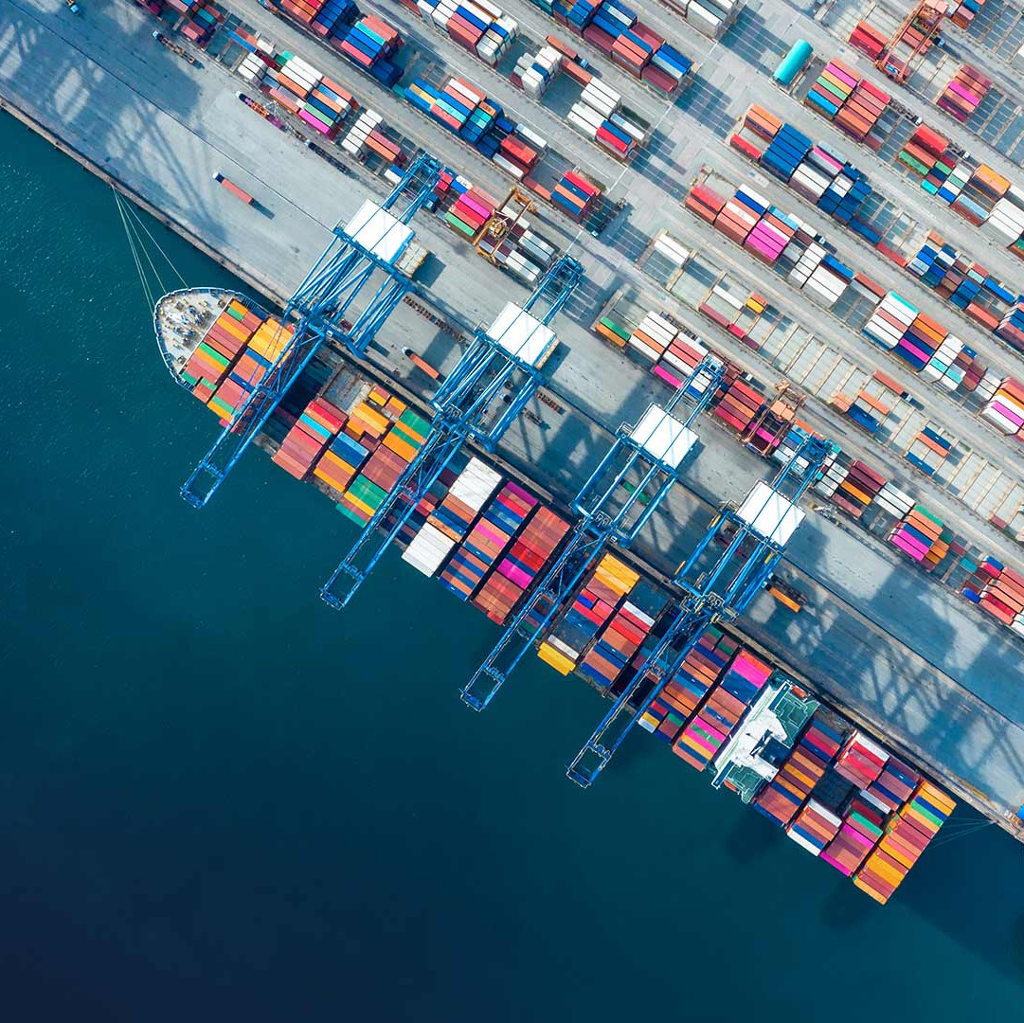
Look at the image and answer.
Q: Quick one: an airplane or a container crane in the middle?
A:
container crane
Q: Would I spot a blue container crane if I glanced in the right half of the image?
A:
Yes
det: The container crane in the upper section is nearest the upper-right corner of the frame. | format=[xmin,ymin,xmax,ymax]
[869,7,943,103]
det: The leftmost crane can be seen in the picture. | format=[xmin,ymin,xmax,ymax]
[179,151,445,511]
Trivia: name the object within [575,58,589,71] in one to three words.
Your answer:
vehicle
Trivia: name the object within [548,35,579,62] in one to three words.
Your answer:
shipping container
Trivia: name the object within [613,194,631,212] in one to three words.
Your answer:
work vehicle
